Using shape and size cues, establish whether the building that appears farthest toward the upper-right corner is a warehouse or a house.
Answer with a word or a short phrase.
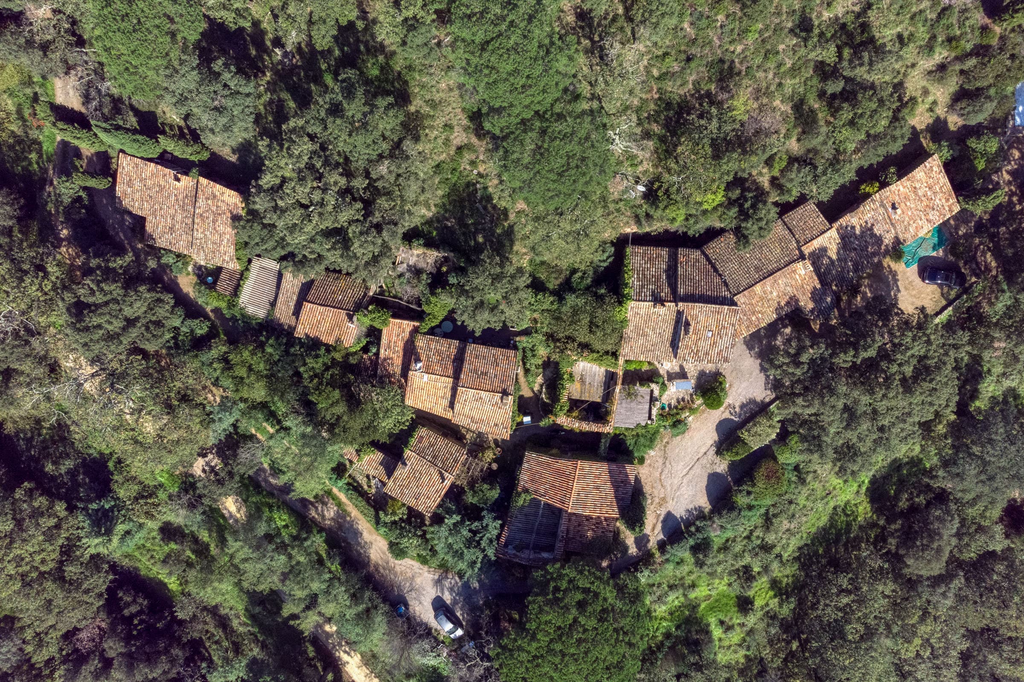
house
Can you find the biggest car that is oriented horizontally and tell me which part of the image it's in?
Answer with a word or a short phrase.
right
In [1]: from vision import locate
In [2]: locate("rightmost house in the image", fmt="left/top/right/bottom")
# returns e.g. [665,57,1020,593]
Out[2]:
[793,154,961,285]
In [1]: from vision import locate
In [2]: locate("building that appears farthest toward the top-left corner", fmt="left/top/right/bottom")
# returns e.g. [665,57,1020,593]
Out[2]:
[115,153,255,269]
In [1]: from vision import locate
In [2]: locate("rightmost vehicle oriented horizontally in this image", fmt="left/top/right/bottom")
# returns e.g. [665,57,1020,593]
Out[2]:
[921,267,968,290]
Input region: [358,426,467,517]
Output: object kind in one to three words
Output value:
house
